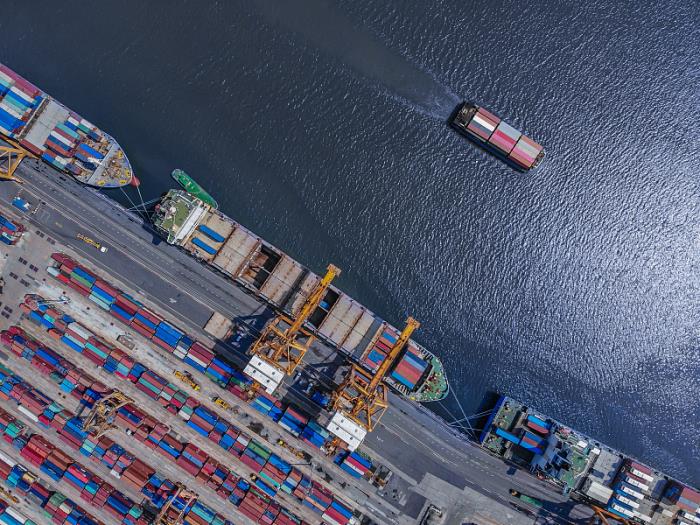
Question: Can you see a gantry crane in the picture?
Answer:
Yes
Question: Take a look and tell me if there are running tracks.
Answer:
No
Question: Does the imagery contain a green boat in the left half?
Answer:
Yes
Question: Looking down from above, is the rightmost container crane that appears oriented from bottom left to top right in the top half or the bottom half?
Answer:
bottom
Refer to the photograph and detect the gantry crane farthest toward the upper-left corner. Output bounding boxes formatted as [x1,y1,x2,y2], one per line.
[0,134,44,187]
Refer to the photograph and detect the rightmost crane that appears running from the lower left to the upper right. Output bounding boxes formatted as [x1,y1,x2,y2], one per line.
[321,314,421,450]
